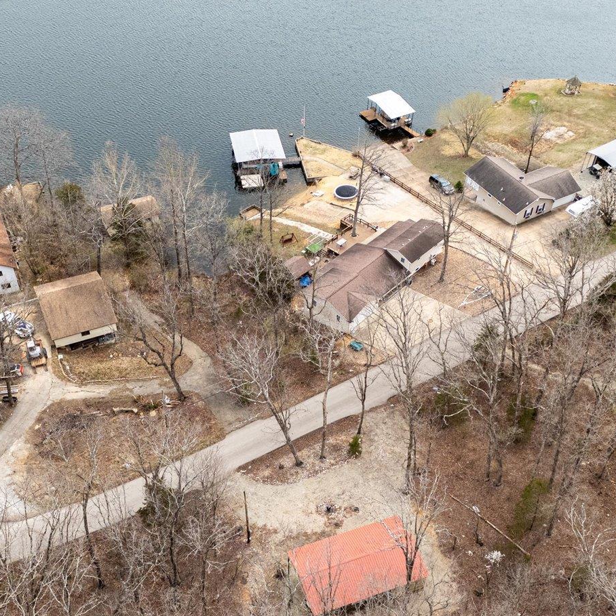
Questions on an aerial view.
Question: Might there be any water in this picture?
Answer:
Yes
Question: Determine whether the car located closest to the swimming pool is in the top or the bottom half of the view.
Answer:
top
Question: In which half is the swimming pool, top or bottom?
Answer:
top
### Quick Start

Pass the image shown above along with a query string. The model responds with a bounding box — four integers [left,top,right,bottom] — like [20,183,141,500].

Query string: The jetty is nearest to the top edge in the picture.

[359,91,422,139]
